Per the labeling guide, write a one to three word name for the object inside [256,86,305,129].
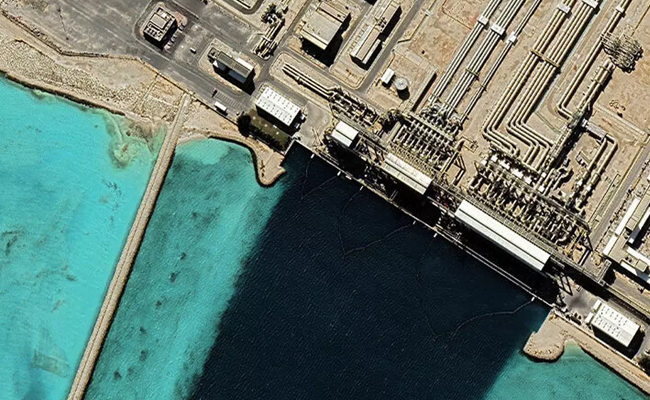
building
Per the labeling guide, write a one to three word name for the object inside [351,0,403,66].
building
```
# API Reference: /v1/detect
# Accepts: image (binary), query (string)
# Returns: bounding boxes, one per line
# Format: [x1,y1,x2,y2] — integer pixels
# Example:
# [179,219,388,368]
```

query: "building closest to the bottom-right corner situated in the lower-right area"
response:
[583,300,640,349]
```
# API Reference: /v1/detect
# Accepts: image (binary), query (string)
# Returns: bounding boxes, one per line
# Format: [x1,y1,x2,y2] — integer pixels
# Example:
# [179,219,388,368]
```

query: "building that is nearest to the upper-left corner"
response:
[143,6,178,43]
